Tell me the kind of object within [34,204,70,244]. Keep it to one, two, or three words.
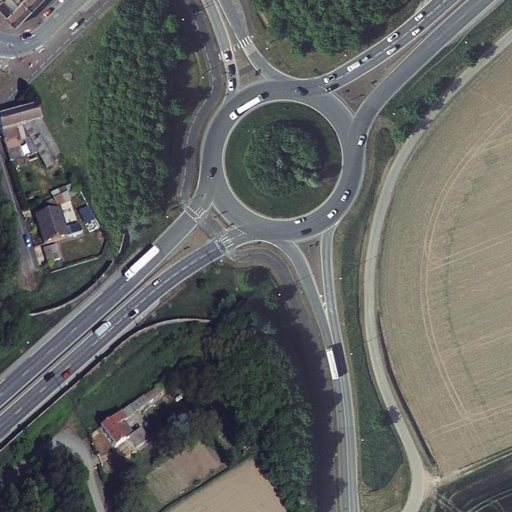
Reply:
house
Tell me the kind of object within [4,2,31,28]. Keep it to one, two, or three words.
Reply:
house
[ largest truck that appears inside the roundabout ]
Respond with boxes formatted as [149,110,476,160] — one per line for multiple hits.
[232,94,264,118]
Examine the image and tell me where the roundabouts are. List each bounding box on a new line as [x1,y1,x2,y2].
[201,78,364,242]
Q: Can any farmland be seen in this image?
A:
Yes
